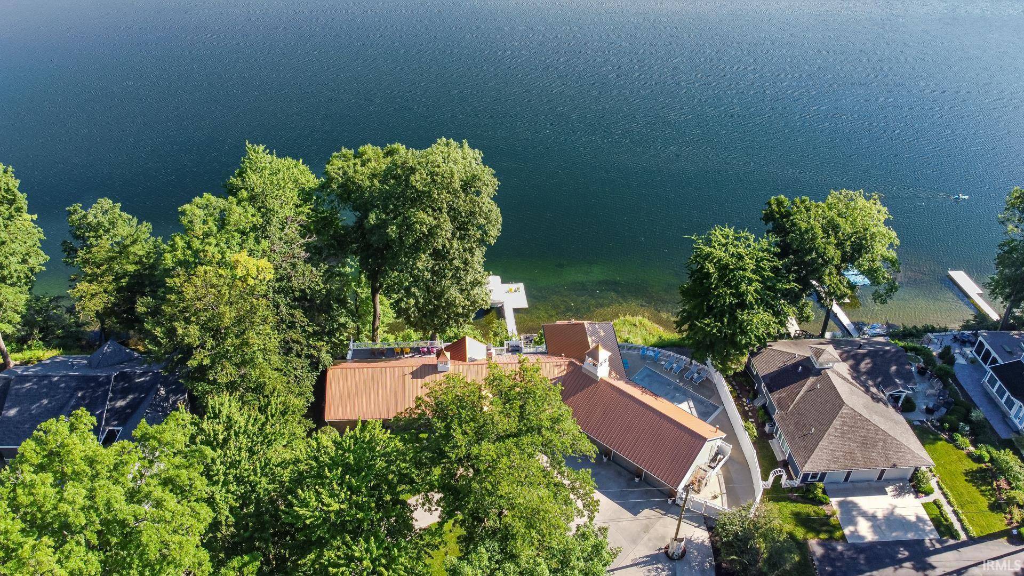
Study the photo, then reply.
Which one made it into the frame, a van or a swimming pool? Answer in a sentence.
I can see a swimming pool in this picture.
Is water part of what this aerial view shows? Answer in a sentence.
Yes, water shows up in the scene.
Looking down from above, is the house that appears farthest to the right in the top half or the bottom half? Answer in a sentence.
The house that appears farthest to the right sits in the bottom half of the picture.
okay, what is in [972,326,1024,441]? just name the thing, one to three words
house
